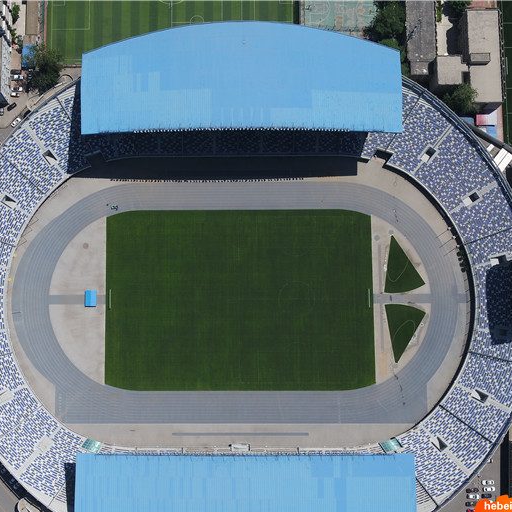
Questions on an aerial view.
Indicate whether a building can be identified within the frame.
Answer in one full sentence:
Yes, I can see a building in this picture.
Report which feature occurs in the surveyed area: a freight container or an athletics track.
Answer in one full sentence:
The image shows an athletics track.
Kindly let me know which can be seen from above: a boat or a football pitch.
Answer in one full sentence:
The one in the frame is a football pitch.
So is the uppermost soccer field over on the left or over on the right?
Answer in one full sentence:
It is on the left.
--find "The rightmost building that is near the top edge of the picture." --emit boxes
[456,9,502,110]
